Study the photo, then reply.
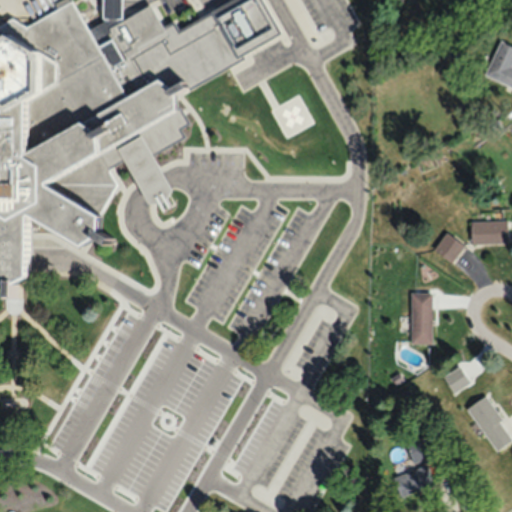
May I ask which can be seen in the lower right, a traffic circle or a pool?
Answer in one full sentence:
There is a pool in the lower right.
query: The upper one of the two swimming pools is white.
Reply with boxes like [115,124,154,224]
[395,341,429,376]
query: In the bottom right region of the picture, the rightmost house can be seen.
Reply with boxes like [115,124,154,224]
[466,397,512,452]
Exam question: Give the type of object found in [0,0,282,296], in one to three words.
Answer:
building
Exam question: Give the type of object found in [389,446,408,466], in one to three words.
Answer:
swimming pool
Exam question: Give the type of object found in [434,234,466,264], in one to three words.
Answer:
house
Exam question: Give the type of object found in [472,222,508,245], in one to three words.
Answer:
house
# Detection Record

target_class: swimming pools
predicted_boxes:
[389,446,408,466]
[395,341,429,376]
